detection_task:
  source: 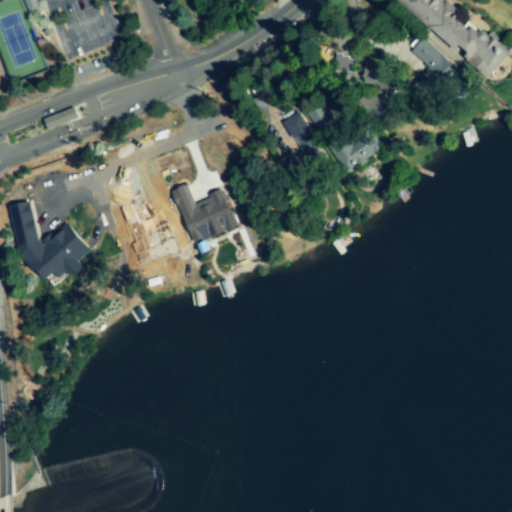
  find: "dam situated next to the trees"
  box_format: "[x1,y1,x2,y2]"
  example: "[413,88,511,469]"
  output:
[13,448,164,512]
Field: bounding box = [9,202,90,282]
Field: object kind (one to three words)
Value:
house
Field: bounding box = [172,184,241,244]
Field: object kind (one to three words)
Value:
house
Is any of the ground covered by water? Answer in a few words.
Yes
